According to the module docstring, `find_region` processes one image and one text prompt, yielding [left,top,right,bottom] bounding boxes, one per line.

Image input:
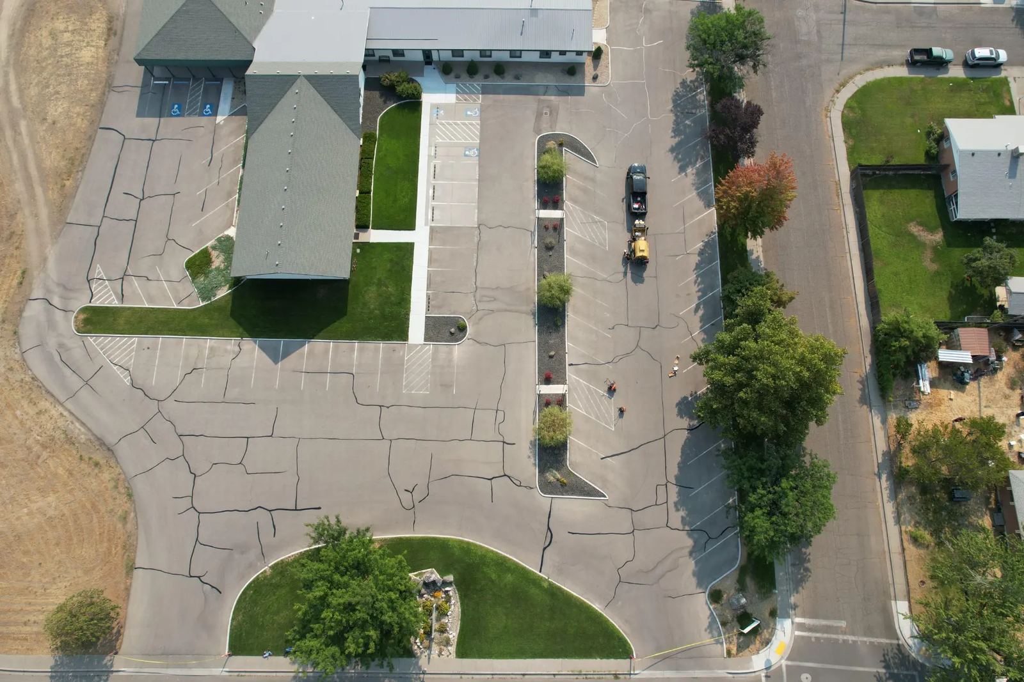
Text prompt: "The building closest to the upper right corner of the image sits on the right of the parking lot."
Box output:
[938,115,1024,222]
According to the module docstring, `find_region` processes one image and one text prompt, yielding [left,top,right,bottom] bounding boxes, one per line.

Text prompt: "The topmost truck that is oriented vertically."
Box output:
[628,166,649,217]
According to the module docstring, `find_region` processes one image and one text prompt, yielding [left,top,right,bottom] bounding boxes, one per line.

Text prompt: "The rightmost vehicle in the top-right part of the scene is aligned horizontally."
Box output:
[963,47,1006,67]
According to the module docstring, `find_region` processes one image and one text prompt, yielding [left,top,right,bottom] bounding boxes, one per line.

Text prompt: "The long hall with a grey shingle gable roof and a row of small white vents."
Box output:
[232,63,367,279]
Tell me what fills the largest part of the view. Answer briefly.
paved ground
